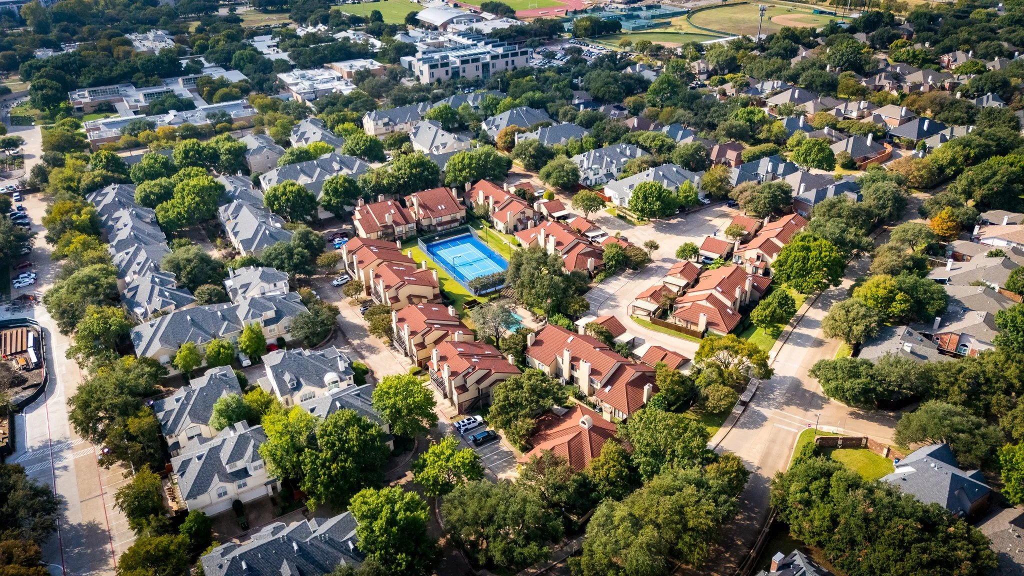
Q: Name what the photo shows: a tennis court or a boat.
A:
tennis court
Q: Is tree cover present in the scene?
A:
Yes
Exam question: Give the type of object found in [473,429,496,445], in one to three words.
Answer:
car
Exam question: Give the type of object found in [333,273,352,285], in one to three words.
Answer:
vehicle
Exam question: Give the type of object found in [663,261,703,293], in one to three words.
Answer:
building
